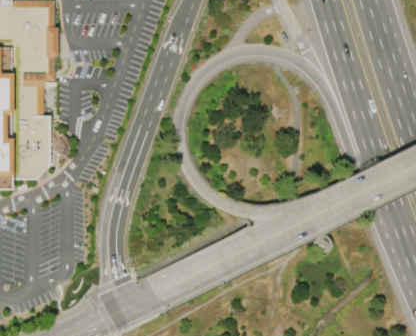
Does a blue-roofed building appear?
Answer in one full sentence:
No, the scene contains no blue-roofed building.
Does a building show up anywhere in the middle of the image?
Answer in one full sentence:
No, I see no building in the middle of the image.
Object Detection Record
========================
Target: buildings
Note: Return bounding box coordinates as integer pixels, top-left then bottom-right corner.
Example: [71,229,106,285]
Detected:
[0,0,59,115]
[0,47,16,190]
[16,116,52,180]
